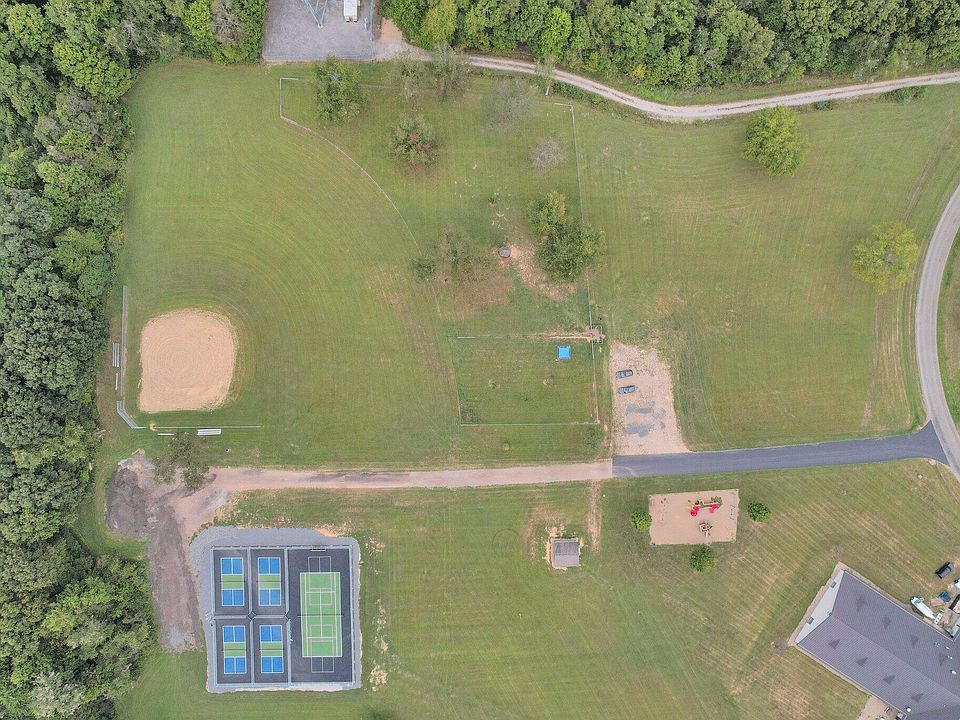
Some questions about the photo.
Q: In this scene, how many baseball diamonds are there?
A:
1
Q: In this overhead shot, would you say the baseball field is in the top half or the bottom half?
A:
top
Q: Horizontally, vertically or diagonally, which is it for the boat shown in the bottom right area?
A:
diagonally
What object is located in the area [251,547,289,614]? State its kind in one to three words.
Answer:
sports court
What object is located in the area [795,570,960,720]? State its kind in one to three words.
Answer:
building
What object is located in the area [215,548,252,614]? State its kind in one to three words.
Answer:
sports court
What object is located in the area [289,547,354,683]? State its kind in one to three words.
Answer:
tennis court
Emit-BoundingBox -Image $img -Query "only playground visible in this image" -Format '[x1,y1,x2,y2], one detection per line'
[649,488,740,546]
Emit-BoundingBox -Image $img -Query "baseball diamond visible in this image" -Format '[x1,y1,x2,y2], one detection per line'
[121,62,461,427]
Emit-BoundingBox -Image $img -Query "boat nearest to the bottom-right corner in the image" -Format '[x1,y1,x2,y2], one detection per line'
[911,598,936,620]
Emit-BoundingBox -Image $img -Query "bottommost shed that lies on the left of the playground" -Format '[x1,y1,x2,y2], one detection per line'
[551,537,578,564]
